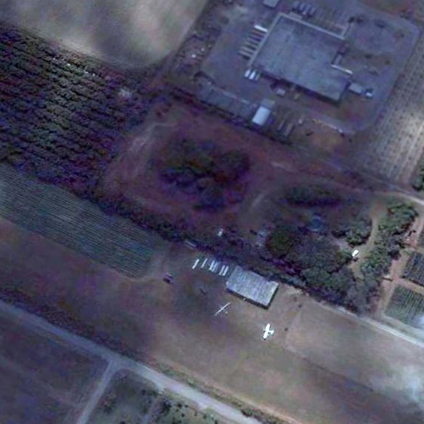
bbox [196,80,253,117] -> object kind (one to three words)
shed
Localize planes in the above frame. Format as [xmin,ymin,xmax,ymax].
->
[215,300,229,318]
[263,324,275,338]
